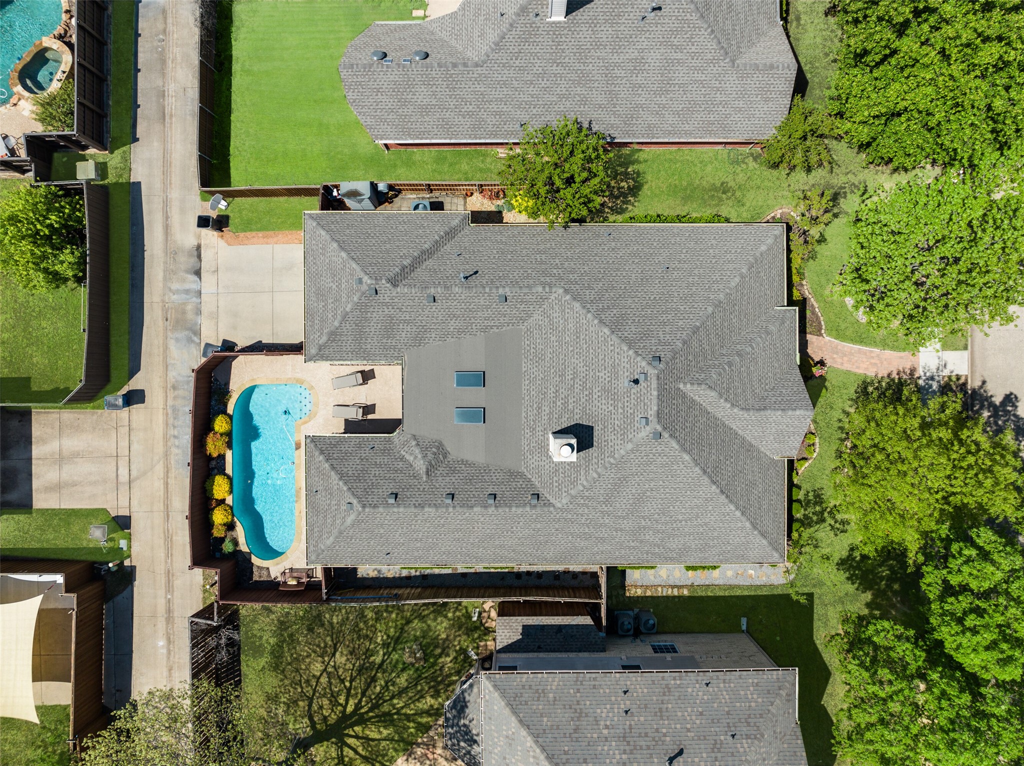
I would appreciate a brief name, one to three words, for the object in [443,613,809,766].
house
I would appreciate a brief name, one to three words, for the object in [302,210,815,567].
house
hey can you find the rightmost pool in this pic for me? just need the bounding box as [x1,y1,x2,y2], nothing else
[226,377,319,567]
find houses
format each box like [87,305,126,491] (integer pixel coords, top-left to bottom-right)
[340,0,797,152]
[443,613,809,766]
[302,210,815,567]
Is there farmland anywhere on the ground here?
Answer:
No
